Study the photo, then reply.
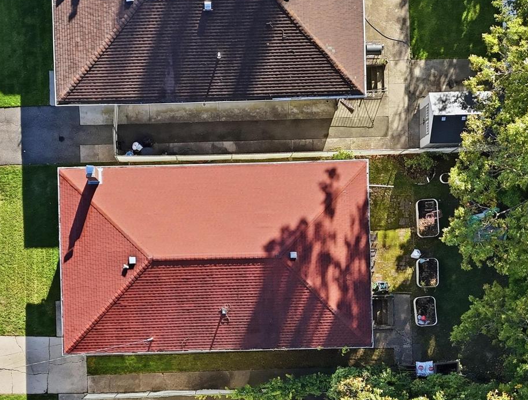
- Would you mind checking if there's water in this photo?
No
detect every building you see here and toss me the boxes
[421,91,497,146]
[50,0,369,108]
[55,156,375,357]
